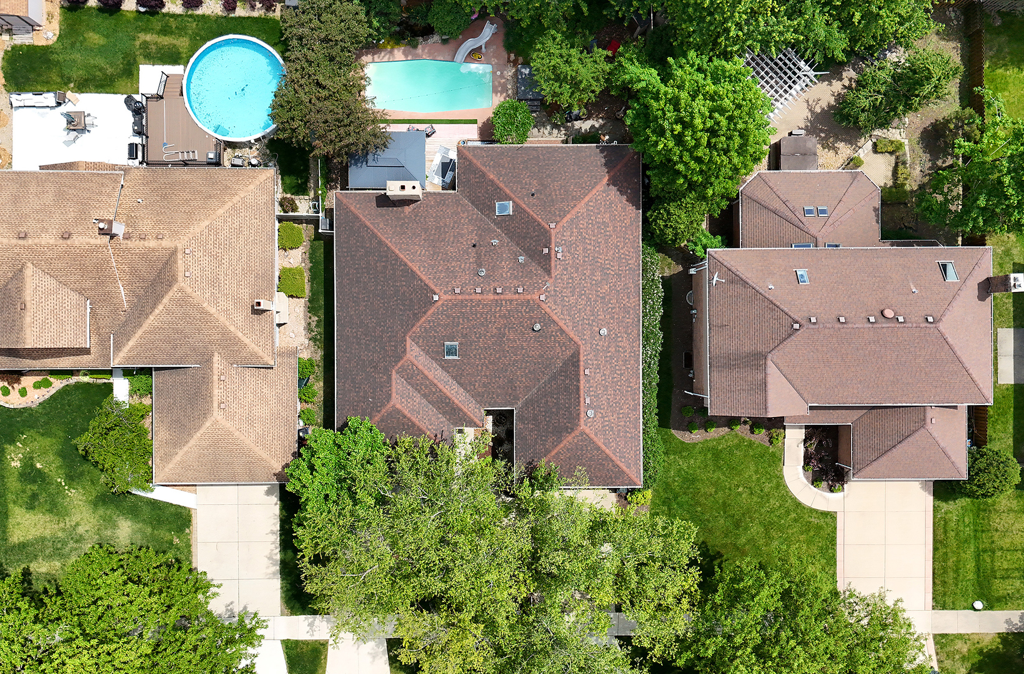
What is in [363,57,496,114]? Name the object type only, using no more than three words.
swimming pool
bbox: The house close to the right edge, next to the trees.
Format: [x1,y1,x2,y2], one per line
[676,170,1024,482]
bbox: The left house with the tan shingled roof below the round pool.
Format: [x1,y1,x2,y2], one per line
[0,161,301,486]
